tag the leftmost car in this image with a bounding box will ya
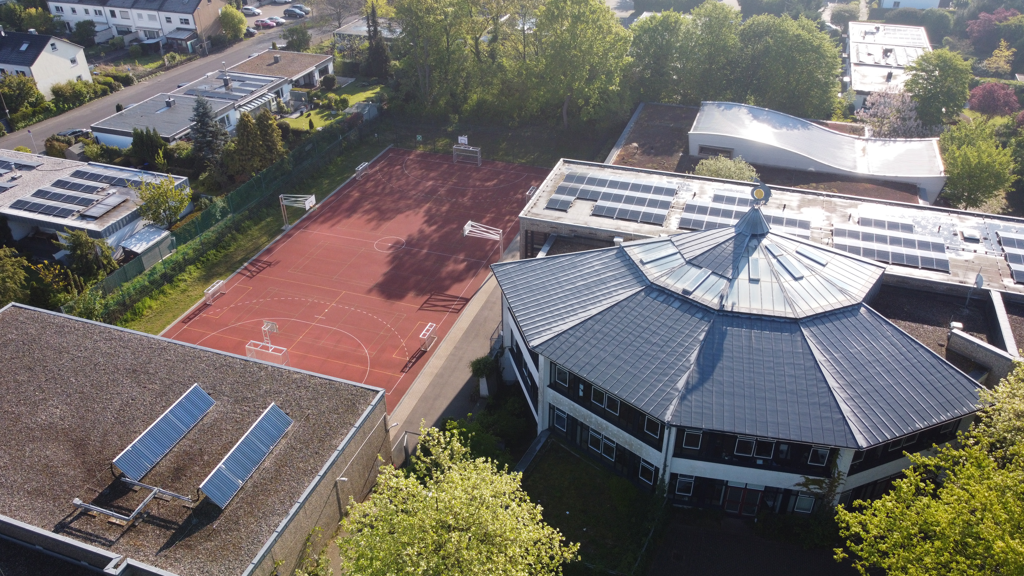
[56,123,90,138]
